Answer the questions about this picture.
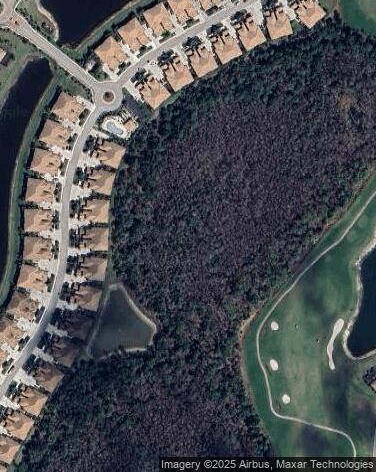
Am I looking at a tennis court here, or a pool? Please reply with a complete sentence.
The image shows a pool.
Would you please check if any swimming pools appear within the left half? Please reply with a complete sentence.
Yes, you'll find a swimming pool within the left half.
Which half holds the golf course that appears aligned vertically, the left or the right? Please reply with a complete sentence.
You can find the golf course that appears aligned vertically on the right side of the picture.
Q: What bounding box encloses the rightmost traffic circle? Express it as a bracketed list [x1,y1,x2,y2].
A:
[95,82,123,110]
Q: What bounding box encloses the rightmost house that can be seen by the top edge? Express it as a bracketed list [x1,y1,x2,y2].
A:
[285,0,325,29]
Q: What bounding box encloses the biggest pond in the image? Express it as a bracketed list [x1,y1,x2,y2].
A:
[91,282,153,355]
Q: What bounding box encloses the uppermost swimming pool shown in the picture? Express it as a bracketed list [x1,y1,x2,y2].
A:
[101,115,130,140]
